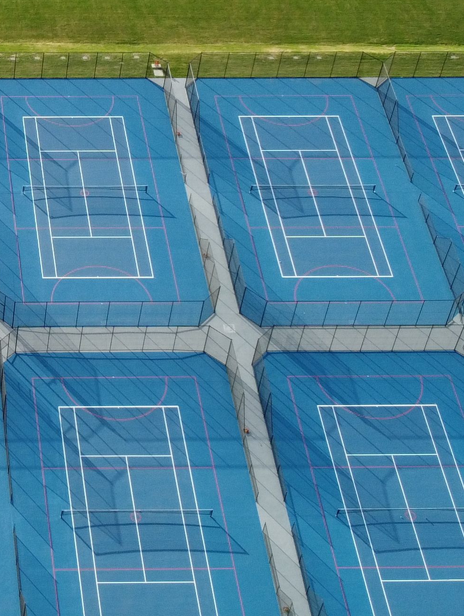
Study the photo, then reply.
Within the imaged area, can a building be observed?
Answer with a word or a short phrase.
No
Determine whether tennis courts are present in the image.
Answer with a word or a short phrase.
Yes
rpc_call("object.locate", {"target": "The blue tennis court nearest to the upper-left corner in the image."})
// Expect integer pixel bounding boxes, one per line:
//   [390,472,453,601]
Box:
[0,78,212,326]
